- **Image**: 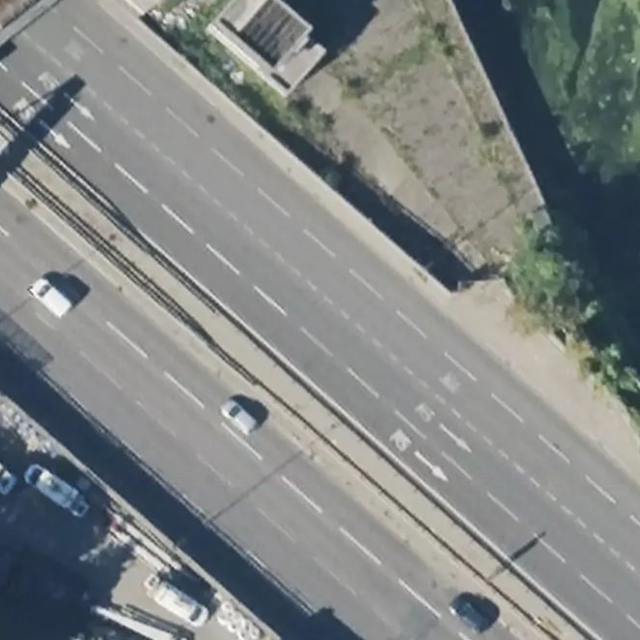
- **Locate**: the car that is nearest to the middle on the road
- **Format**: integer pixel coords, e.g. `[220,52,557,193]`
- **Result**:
[219,395,263,436]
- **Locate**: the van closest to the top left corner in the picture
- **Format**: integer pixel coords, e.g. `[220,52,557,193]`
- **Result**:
[28,274,78,321]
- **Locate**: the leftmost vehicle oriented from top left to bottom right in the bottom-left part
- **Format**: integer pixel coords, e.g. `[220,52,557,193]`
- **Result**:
[25,463,91,519]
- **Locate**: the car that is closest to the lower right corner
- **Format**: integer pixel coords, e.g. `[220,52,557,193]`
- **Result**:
[453,591,497,634]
